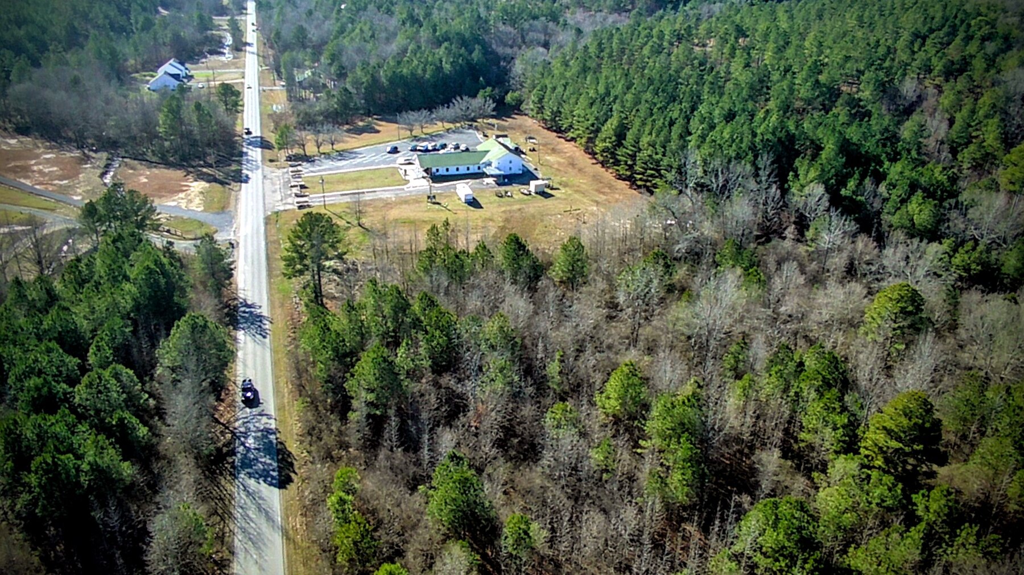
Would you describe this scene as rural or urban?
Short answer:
rural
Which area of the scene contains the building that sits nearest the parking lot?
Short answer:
top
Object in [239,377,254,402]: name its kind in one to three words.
vehicle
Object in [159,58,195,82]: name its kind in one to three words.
house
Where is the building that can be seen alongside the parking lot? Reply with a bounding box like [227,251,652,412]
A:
[419,132,528,180]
